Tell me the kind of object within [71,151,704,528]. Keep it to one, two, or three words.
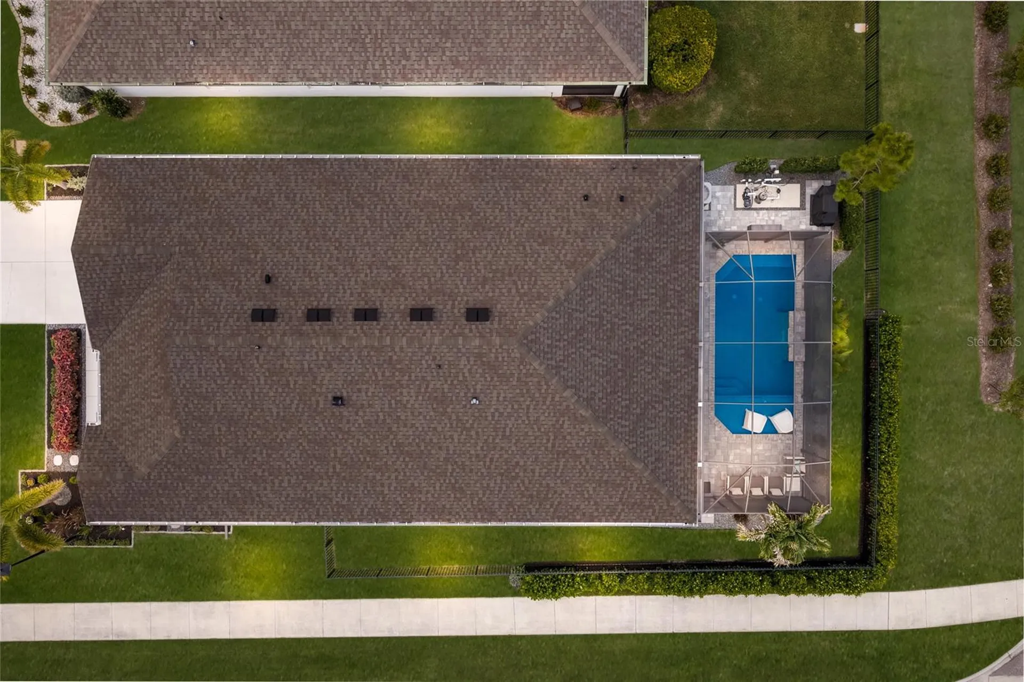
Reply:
house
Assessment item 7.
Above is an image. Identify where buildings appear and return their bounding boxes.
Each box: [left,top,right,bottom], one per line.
[71,151,704,528]
[44,0,651,99]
